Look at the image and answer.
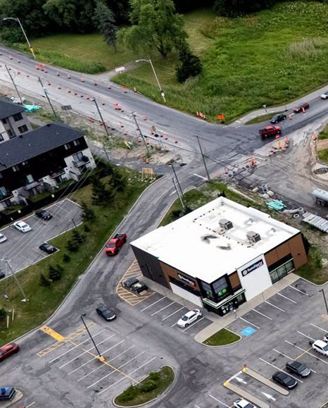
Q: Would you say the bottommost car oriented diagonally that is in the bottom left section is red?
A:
Yes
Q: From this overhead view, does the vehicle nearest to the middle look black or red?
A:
red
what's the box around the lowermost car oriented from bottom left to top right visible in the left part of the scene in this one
[0,340,23,361]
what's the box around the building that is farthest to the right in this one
[132,196,308,317]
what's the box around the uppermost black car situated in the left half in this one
[33,210,54,222]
